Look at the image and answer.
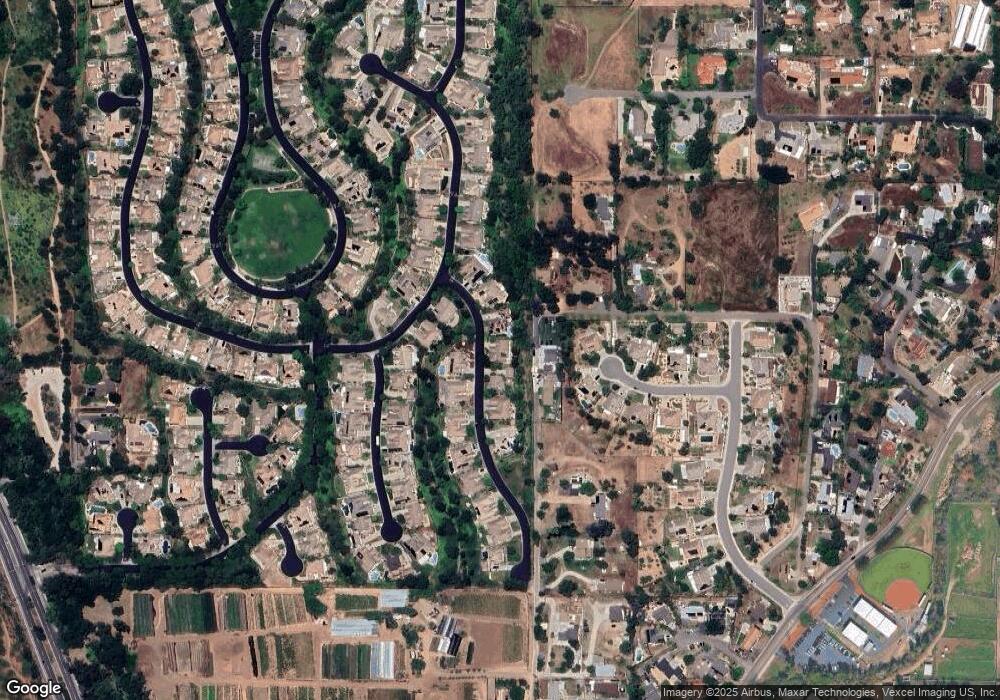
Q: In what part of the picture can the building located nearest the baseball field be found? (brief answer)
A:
bottom right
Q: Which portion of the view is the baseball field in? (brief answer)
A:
bottom right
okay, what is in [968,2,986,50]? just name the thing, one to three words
greenhouse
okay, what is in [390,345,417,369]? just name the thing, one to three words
house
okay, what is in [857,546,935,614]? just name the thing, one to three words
baseball field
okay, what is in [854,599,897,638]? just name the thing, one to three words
building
